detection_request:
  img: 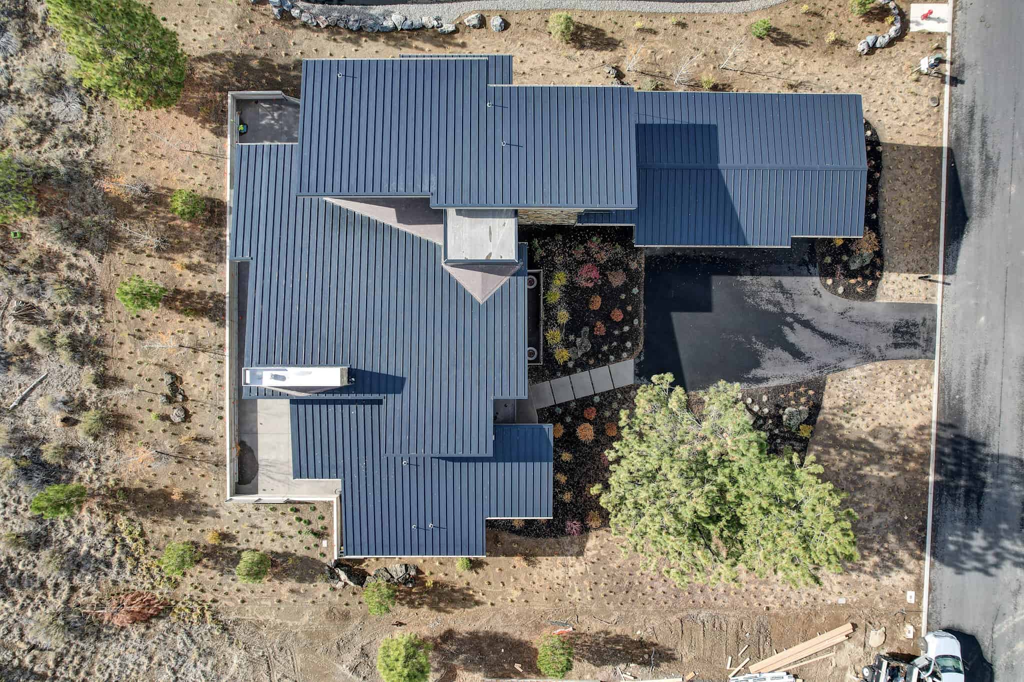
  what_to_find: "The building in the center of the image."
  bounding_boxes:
[229,53,867,558]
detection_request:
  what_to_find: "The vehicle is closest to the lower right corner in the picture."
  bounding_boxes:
[907,625,968,682]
